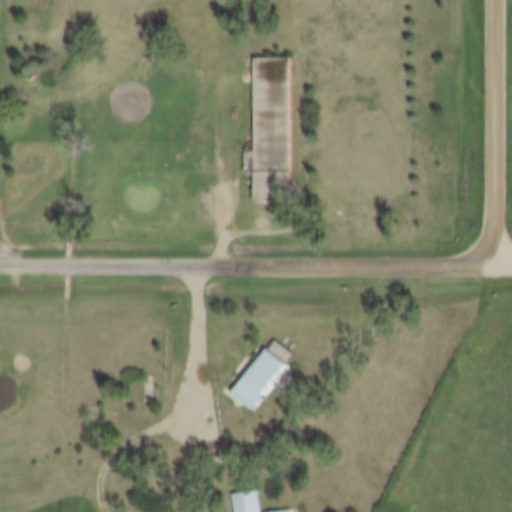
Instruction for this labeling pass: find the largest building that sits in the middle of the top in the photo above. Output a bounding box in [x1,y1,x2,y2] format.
[252,57,292,172]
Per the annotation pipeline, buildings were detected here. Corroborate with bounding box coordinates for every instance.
[231,340,293,408]
[252,57,292,172]
[234,490,262,512]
